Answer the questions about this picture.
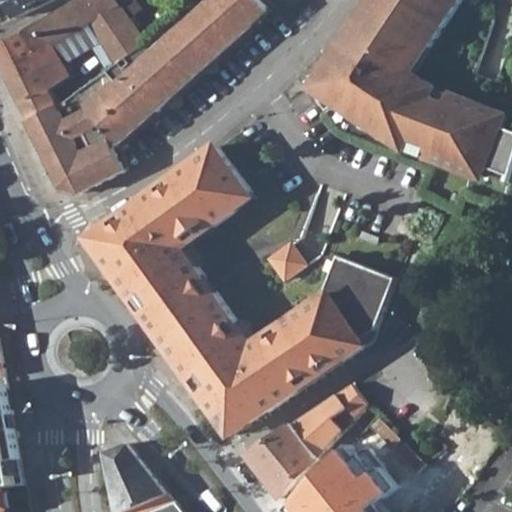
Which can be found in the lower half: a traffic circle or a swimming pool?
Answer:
traffic circle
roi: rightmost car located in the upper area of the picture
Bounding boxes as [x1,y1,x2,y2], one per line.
[401,167,417,188]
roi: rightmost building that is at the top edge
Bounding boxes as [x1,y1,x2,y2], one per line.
[304,0,508,182]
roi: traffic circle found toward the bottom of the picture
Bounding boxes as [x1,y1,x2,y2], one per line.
[46,318,110,384]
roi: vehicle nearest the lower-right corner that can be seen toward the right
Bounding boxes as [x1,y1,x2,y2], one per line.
[396,404,415,416]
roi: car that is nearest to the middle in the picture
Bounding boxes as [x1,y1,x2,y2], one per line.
[284,176,302,192]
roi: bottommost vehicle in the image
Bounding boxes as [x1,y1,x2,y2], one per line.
[199,487,227,512]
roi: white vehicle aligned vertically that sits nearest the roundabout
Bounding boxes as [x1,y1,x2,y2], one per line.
[27,334,40,356]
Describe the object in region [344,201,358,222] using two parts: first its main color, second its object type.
white vehicle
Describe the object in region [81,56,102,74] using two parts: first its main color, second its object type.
white vehicle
